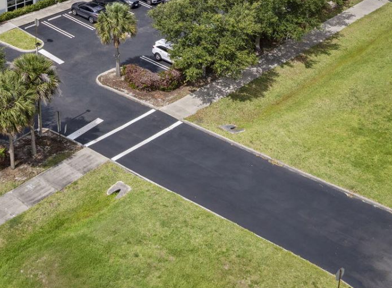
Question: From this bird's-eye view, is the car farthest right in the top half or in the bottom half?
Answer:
top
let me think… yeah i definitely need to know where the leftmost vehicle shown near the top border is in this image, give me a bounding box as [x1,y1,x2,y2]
[74,1,110,20]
